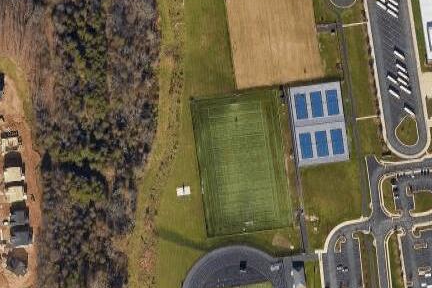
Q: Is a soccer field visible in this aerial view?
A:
Yes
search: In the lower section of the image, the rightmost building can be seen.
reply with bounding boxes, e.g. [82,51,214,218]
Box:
[291,264,307,288]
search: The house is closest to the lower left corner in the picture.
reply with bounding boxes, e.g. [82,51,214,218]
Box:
[6,249,29,273]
